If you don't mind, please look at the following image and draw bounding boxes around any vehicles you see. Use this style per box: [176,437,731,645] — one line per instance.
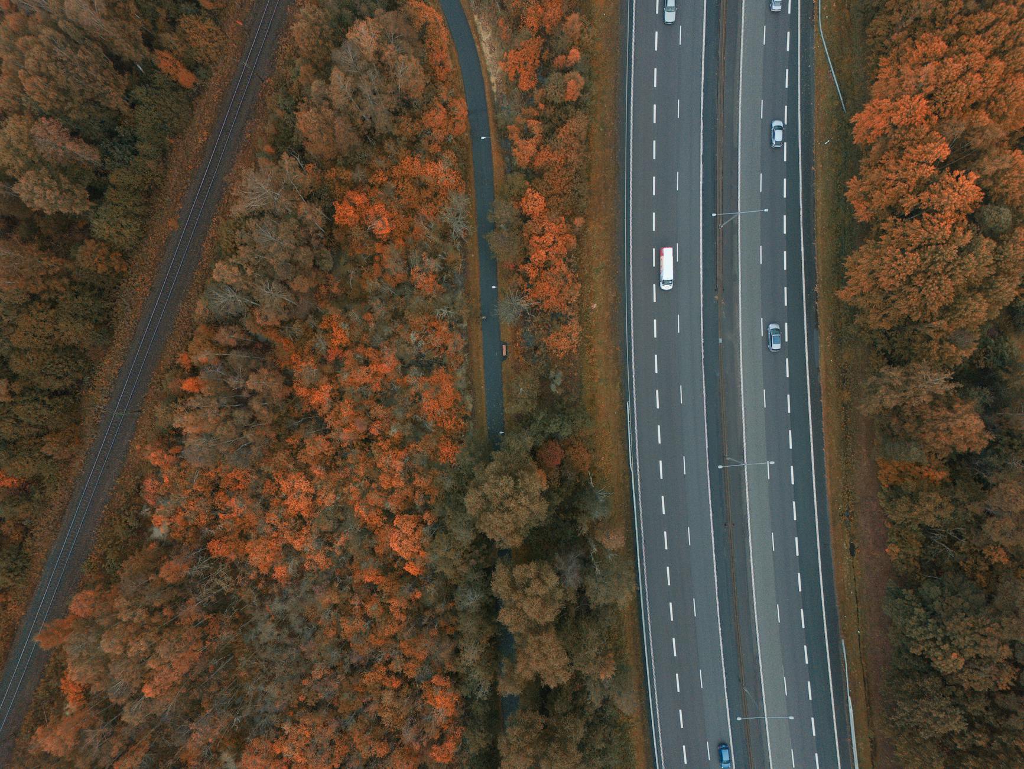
[659,245,675,289]
[771,120,785,148]
[768,324,782,352]
[719,744,733,769]
[770,0,782,12]
[663,0,676,24]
